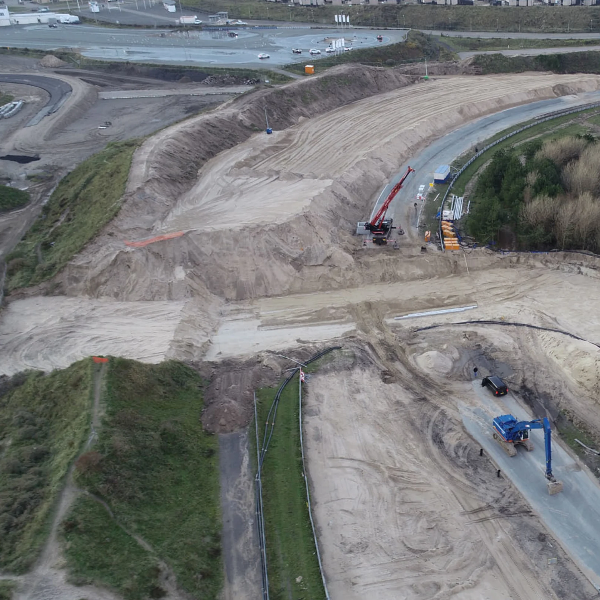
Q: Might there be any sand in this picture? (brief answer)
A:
Yes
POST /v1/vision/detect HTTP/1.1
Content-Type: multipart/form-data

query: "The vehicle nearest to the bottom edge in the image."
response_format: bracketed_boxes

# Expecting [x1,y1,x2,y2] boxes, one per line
[492,411,567,498]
